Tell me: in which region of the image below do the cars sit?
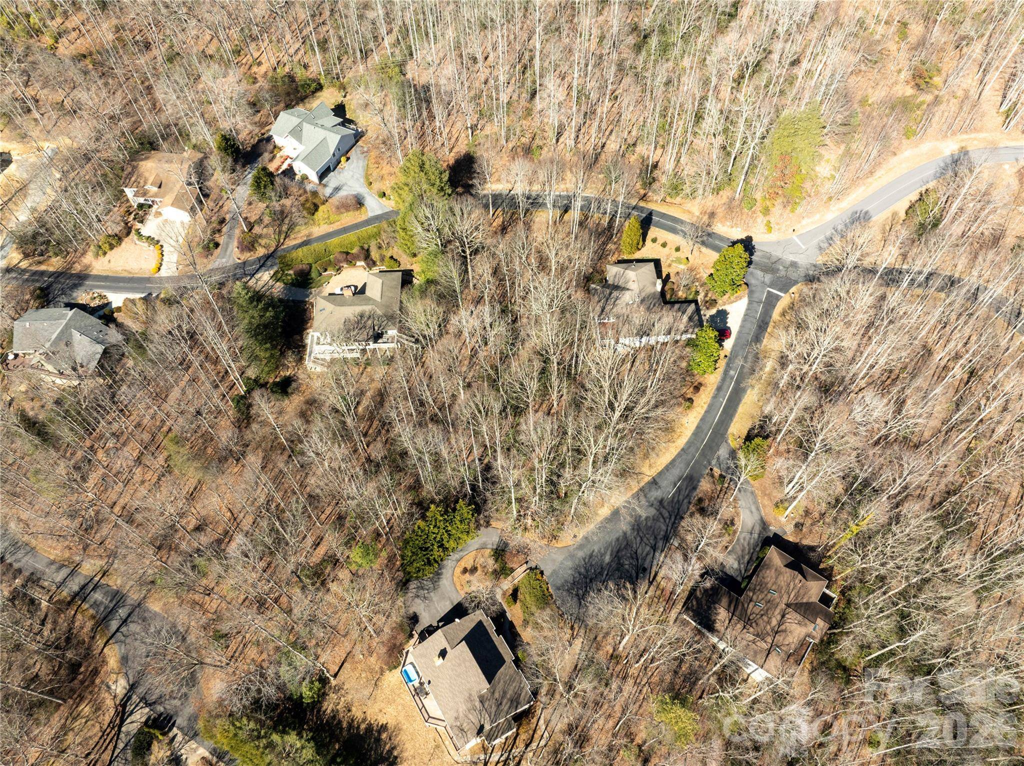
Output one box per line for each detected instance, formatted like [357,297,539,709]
[710,328,733,340]
[334,284,357,295]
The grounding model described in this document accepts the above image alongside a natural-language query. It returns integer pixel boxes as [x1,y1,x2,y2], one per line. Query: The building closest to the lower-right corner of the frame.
[682,546,840,680]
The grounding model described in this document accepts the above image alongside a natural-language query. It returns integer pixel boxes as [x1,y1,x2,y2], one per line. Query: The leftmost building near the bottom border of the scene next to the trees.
[399,610,535,753]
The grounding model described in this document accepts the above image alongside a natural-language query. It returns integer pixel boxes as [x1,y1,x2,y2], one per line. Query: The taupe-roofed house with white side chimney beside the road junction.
[589,262,702,348]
